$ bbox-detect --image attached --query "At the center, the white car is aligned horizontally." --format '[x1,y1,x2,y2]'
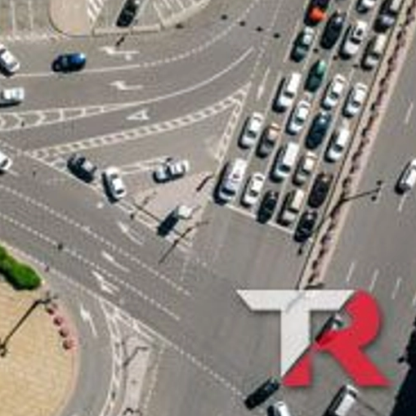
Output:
[151,160,188,181]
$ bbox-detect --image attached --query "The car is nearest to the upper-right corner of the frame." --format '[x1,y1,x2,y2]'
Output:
[373,0,401,32]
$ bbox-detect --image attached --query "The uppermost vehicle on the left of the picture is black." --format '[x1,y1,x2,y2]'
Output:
[117,0,141,29]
